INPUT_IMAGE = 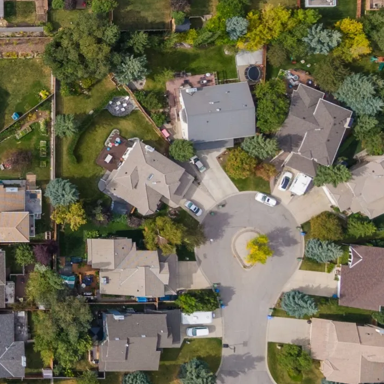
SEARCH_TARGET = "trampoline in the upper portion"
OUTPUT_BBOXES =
[242,62,264,82]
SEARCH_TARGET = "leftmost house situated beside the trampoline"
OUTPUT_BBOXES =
[172,81,258,152]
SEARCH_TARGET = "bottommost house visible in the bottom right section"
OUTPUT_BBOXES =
[302,320,384,383]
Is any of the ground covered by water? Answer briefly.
No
